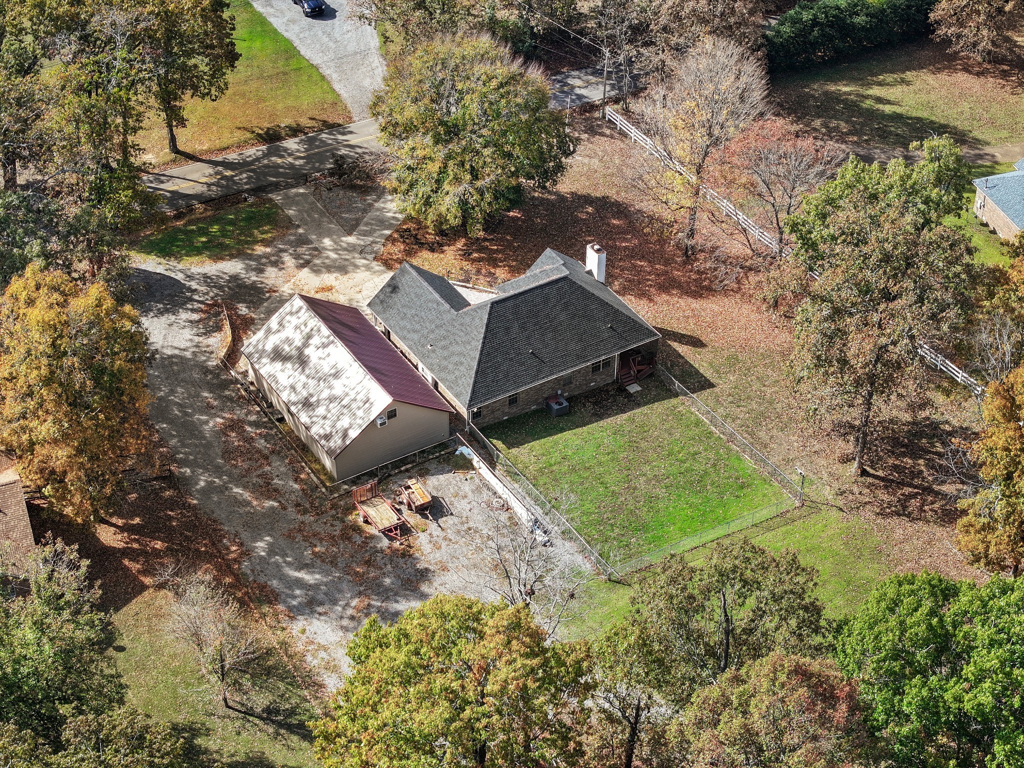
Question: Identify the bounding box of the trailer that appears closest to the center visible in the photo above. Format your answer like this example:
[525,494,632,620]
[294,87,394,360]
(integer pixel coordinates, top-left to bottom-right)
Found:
[398,473,434,522]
